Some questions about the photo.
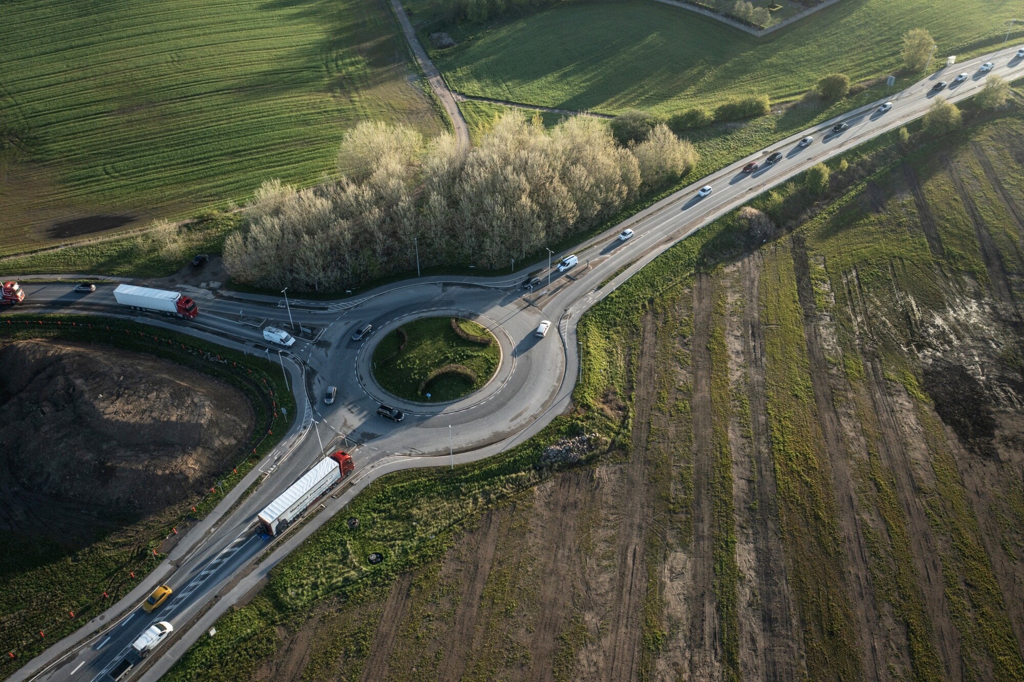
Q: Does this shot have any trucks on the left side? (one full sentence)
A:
Yes, you'll find a truck on the left side.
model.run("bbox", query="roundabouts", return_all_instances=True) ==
[302,282,566,456]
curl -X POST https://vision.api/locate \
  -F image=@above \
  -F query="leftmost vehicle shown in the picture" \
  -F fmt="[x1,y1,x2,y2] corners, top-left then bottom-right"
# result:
[0,281,21,302]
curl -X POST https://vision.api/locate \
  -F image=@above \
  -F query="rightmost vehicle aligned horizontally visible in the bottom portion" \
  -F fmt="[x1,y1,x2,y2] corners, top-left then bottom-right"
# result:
[376,403,405,420]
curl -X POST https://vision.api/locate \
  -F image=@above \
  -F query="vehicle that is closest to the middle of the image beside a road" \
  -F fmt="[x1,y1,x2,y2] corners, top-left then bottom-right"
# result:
[534,319,552,335]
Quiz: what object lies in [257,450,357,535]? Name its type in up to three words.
truck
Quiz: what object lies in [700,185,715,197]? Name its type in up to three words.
vehicle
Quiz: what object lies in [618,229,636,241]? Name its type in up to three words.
vehicle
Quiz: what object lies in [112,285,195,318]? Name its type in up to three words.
truck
